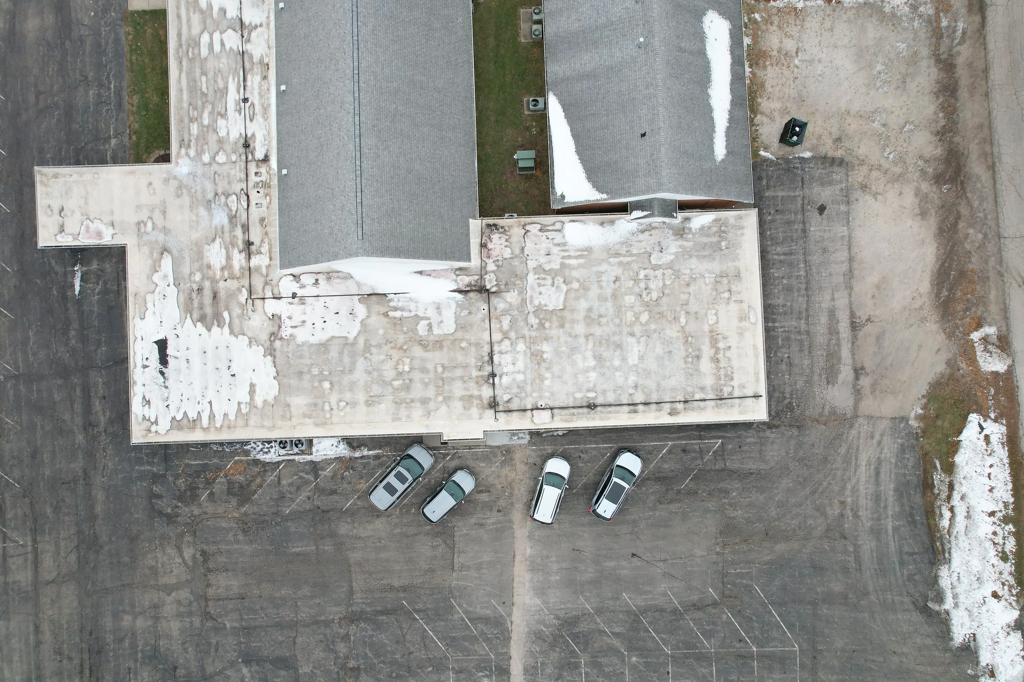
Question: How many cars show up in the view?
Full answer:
Looking from above, you can make out 4 cars.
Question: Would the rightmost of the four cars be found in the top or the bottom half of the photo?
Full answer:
You can find the rightmost of the four cars in the bottom half.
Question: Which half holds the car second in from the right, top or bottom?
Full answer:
It is in the bottom half that the car second in from the right appears.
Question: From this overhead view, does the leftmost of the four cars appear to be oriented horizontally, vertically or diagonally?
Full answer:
What the image shows is the leftmost of the four cars lying diagonally.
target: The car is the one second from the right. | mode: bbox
[530,456,570,524]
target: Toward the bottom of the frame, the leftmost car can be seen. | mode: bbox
[368,444,431,511]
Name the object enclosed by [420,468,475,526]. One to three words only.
car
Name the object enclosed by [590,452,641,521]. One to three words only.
car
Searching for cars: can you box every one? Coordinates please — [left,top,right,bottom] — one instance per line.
[530,456,570,524]
[420,468,475,526]
[368,444,431,511]
[590,452,641,521]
